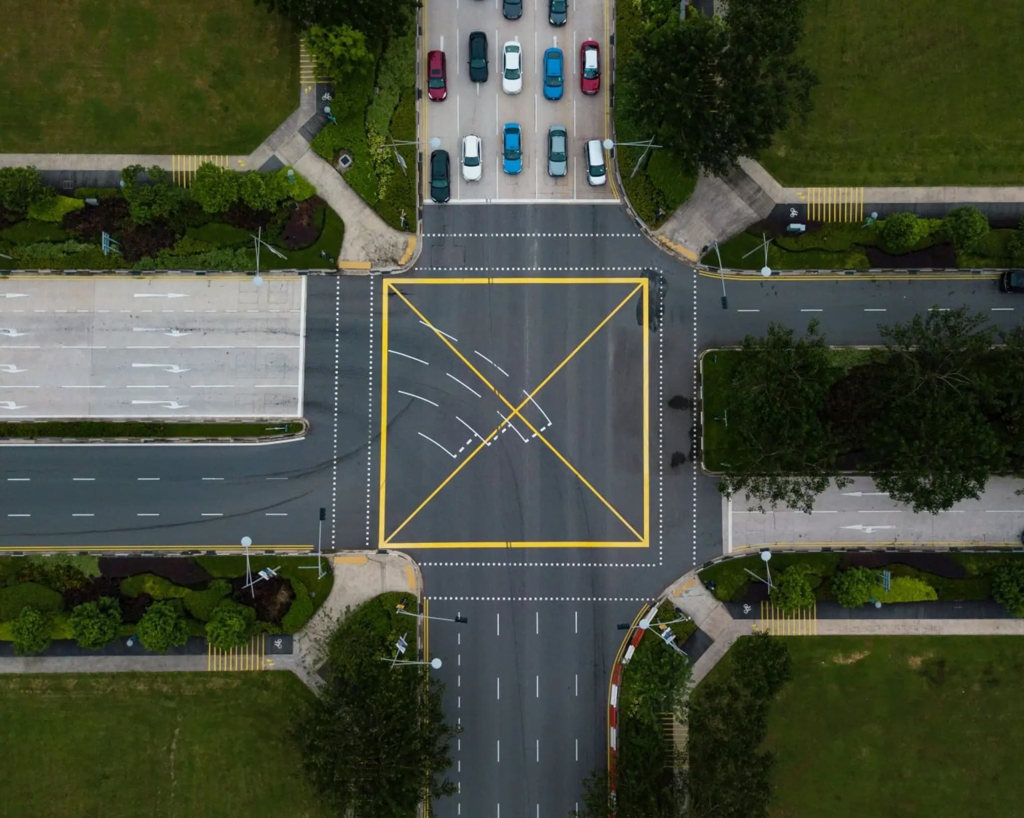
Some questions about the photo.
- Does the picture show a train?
No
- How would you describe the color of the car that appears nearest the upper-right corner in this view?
black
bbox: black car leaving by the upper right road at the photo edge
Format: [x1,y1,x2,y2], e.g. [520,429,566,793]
[1000,270,1024,292]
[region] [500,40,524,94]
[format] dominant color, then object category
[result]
white car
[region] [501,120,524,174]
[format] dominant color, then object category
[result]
blue car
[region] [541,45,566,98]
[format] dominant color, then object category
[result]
blue car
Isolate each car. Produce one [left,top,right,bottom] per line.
[466,27,490,81]
[460,131,483,180]
[501,120,524,174]
[500,40,524,94]
[578,39,602,93]
[427,148,452,201]
[425,48,449,100]
[541,45,566,98]
[546,0,569,26]
[1000,270,1024,292]
[502,0,523,19]
[546,122,570,176]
